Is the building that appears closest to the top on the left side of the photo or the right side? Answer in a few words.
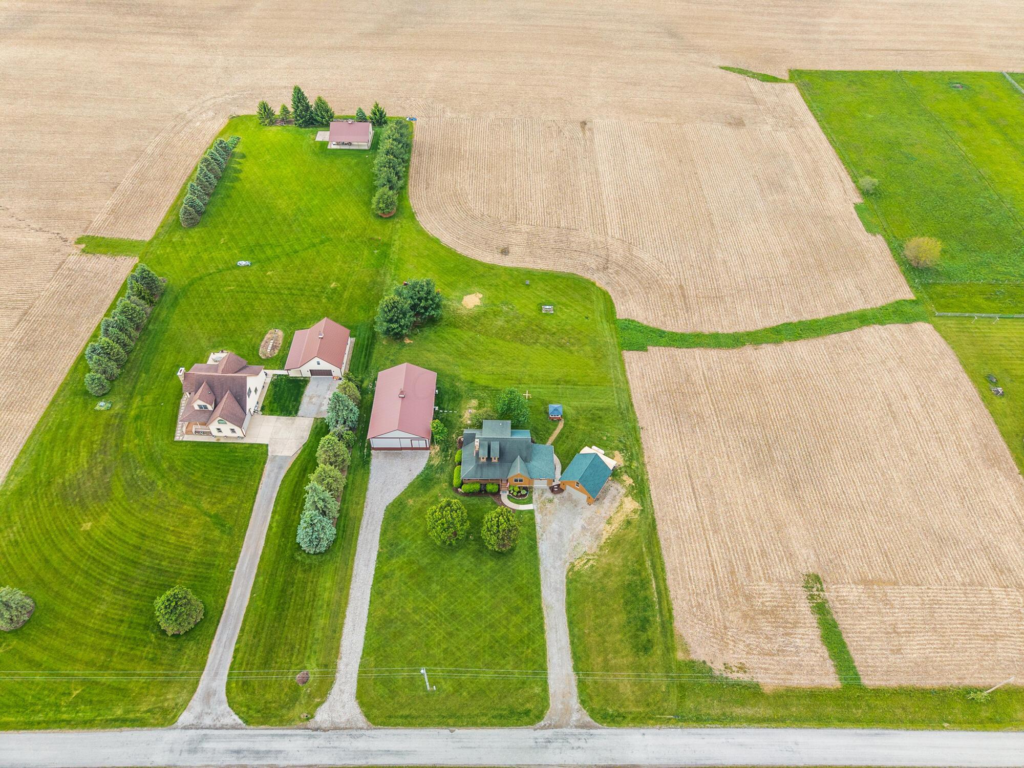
left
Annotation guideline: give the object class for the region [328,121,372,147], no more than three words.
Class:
building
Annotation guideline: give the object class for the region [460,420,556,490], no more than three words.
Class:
house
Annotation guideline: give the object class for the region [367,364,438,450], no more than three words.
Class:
barn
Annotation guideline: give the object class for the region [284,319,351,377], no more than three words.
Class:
building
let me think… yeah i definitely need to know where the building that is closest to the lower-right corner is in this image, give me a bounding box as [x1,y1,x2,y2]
[558,446,618,504]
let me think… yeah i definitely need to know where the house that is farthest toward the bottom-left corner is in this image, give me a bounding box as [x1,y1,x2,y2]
[177,351,266,436]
